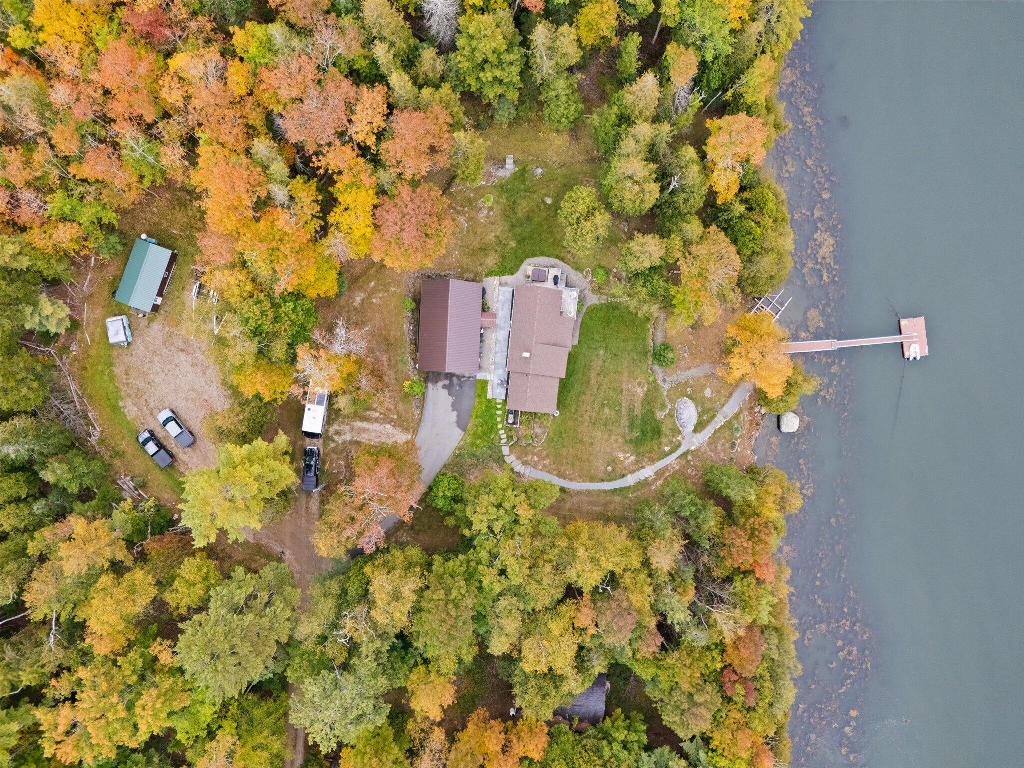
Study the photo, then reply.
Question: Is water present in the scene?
Yes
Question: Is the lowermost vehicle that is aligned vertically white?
No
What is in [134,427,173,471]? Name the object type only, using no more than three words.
truck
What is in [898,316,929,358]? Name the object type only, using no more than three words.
pier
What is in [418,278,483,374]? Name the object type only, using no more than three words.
building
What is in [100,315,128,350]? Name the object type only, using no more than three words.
camper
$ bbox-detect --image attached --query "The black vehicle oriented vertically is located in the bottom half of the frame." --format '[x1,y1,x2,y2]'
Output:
[300,446,320,492]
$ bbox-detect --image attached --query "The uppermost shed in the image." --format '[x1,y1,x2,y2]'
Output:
[115,239,179,313]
